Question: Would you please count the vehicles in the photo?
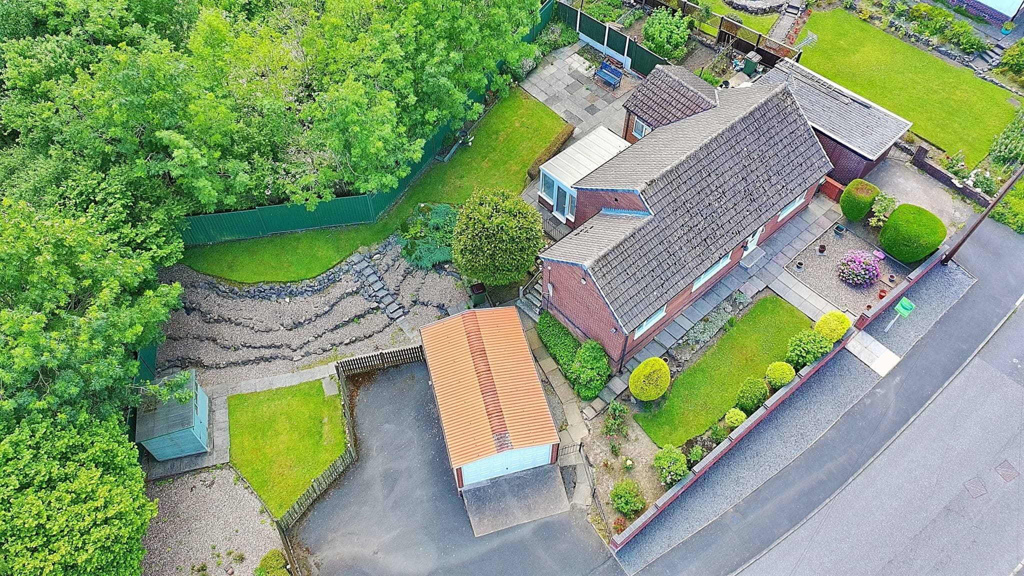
0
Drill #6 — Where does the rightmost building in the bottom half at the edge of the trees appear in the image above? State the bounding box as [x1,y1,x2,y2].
[420,306,559,489]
